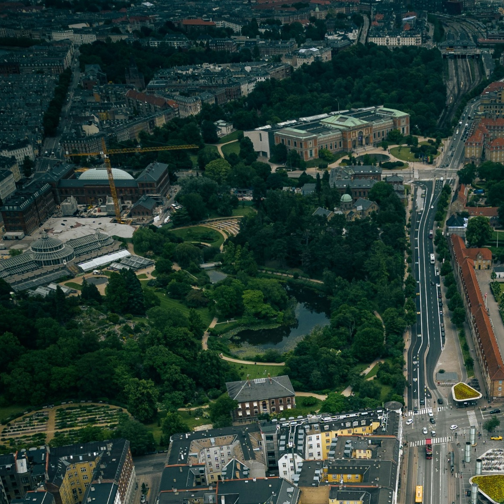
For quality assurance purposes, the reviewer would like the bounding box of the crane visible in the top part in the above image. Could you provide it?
[70,144,202,224]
